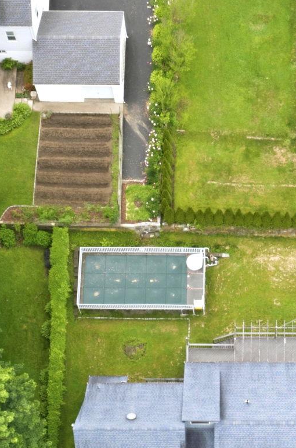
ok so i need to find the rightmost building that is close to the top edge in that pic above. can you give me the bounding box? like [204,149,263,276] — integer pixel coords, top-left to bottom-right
[29,10,127,106]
